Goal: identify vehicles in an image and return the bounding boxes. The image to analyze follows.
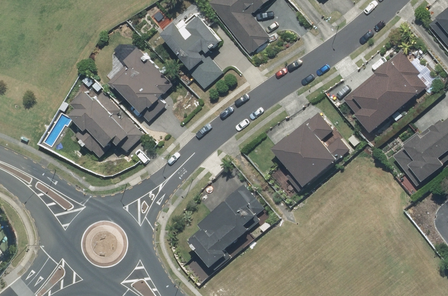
[315,64,331,78]
[194,124,212,140]
[368,56,387,73]
[266,21,280,34]
[372,20,386,34]
[218,104,236,119]
[134,148,152,166]
[256,12,276,21]
[166,152,182,166]
[335,84,354,100]
[233,118,252,133]
[300,72,316,87]
[248,106,266,121]
[358,30,376,46]
[286,58,304,74]
[233,92,252,108]
[274,67,288,80]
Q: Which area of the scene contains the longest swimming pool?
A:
left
